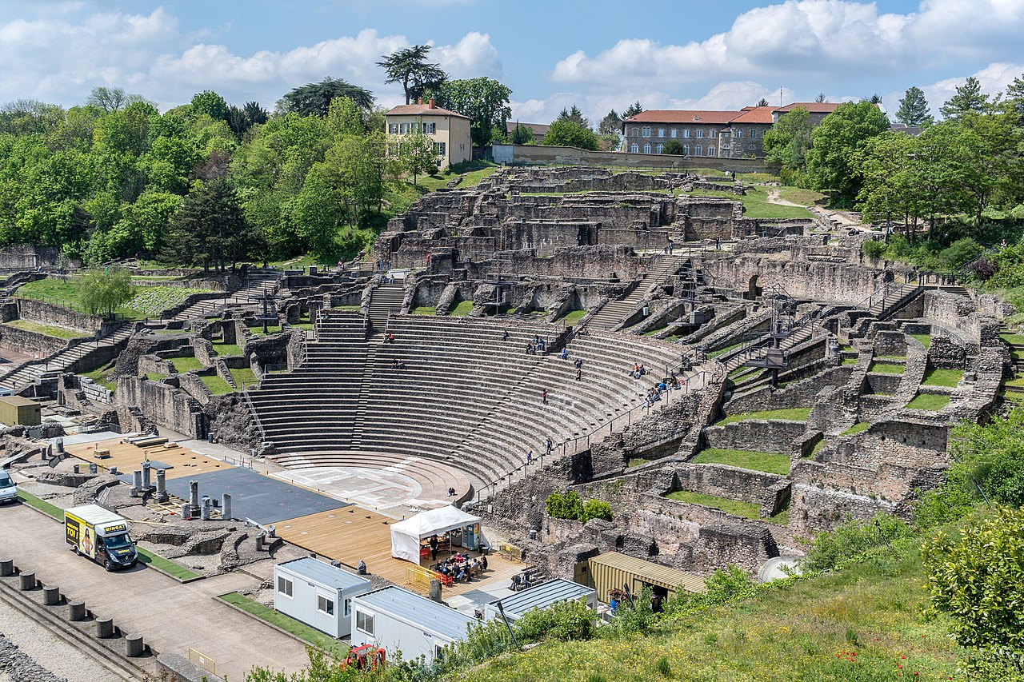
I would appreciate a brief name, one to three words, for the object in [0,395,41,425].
building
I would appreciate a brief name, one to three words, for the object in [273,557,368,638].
building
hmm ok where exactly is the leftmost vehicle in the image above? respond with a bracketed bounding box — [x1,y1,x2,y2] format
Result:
[0,472,21,508]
